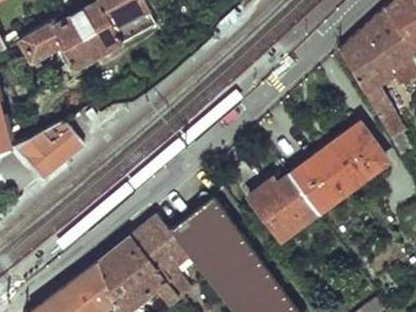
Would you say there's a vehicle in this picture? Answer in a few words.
Yes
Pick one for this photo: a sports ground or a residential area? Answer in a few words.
residential area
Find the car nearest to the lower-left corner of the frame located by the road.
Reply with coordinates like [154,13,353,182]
[160,199,176,220]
